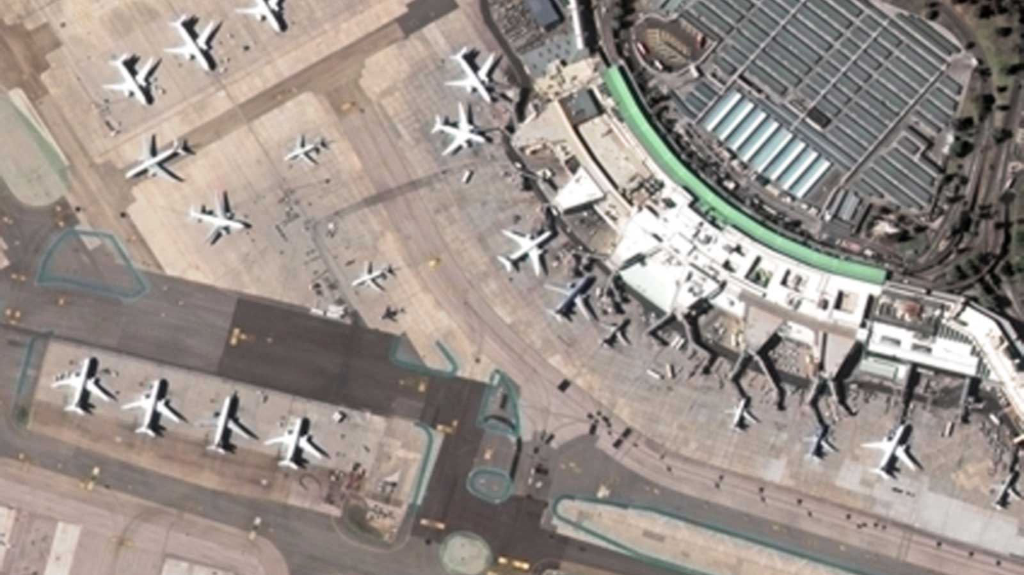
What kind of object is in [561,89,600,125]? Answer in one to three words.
building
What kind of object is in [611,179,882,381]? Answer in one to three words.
building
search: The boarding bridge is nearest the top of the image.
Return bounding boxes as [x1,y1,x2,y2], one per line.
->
[491,88,523,112]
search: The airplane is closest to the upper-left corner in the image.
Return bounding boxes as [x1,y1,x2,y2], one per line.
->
[104,53,155,104]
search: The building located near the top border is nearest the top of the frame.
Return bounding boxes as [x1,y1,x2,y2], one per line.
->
[530,0,561,28]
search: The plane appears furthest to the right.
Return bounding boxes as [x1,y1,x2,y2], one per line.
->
[989,469,1024,513]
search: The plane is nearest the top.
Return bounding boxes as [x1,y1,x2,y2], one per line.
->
[236,0,281,33]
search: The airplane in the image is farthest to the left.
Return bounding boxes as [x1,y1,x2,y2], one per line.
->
[49,358,108,414]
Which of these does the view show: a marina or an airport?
airport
